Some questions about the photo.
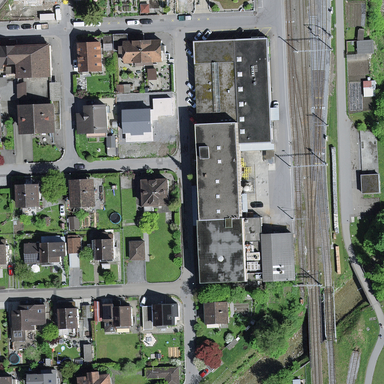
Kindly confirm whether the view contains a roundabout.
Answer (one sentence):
No, there is no roundabout in the image.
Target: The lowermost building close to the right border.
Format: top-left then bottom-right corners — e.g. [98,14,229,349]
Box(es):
[361,173,379,194]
